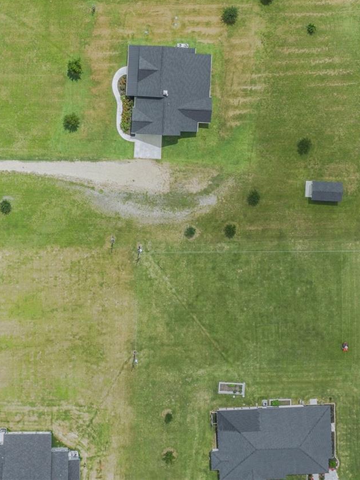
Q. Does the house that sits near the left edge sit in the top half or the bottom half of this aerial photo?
bottom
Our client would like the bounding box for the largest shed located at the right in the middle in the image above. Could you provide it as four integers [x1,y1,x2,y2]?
[304,180,343,201]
